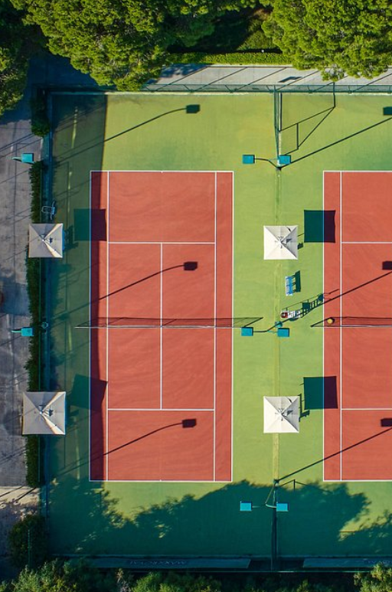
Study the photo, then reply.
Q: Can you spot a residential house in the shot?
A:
No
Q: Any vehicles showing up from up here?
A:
No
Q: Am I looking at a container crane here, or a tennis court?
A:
tennis court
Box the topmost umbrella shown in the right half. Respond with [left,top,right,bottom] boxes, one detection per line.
[264,225,299,260]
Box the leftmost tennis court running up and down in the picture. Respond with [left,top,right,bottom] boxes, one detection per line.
[51,92,276,555]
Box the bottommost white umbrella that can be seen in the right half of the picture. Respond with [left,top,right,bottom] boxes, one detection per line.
[264,395,301,432]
